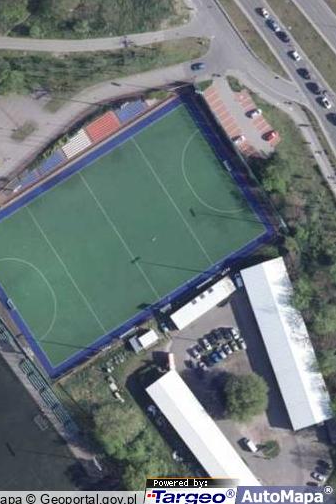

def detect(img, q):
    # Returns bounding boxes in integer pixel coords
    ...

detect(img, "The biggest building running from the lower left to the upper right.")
[170,277,237,330]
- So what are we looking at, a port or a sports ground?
sports ground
